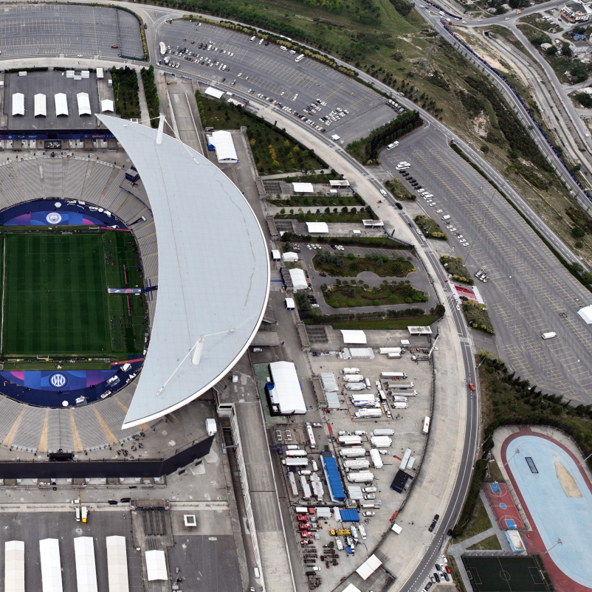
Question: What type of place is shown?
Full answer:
It's a sports ground.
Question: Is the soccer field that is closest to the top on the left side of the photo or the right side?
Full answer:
The soccer field that is closest to the top is on the left side of the image.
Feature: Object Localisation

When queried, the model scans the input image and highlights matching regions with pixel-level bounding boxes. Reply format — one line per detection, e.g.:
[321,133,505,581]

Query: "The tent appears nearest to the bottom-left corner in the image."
[4,540,25,592]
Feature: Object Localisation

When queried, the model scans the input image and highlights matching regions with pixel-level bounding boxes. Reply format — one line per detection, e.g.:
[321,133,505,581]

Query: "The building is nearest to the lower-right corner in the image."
[502,529,525,554]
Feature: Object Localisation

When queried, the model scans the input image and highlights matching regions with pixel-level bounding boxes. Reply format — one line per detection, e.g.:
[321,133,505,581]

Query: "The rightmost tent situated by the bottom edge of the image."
[106,535,129,592]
